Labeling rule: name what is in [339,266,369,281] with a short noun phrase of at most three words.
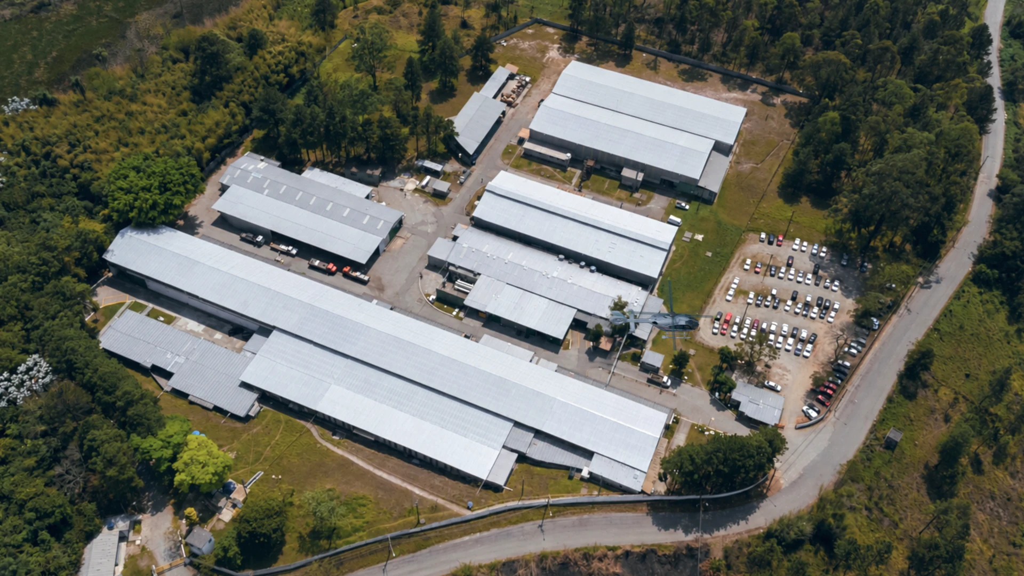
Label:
vehicle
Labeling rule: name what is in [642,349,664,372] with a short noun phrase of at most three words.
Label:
shed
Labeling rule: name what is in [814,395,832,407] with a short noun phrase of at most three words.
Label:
vehicle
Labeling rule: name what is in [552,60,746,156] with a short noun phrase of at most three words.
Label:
building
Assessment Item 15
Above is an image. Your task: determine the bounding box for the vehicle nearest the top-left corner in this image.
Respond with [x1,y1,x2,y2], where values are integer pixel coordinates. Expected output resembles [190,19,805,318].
[240,233,267,247]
